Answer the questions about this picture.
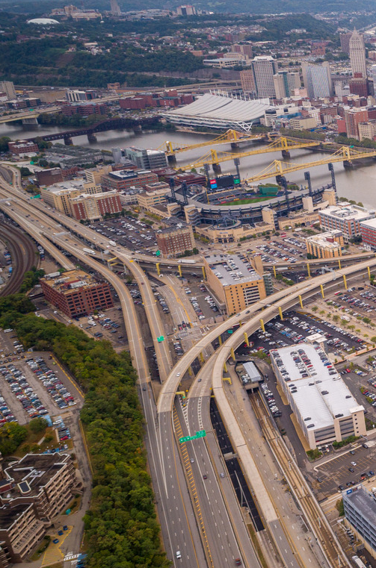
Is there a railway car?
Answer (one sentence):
No, the frame has no railway car in it.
